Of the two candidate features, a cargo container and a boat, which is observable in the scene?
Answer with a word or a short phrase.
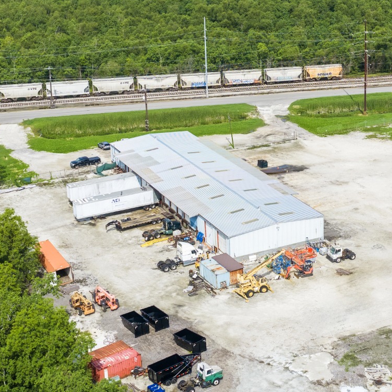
cargo container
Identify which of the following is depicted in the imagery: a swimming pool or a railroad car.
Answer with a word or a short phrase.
railroad car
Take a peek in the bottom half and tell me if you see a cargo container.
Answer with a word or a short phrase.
Yes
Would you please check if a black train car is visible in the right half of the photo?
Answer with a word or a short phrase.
No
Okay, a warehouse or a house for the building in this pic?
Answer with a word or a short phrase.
warehouse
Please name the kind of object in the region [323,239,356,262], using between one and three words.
truck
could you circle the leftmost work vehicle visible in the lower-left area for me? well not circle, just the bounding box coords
[73,291,101,315]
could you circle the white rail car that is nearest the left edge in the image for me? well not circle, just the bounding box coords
[0,84,41,102]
